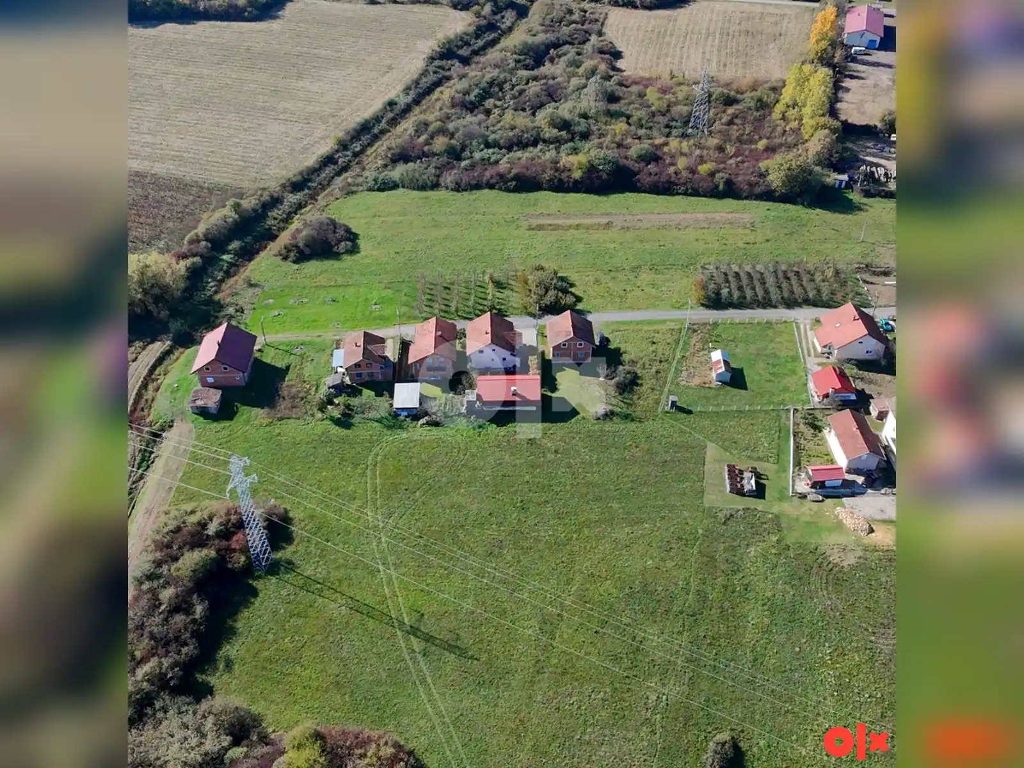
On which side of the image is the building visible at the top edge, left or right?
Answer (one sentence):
You can find the building visible at the top edge on the right side of the picture.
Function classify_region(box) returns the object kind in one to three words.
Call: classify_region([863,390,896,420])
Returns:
building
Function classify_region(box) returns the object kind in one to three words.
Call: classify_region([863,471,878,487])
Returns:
car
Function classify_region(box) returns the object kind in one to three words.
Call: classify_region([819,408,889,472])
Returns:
house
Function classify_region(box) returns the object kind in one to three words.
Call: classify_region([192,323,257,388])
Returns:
house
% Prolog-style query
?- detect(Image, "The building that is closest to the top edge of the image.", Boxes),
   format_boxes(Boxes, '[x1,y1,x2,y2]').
[846,6,887,49]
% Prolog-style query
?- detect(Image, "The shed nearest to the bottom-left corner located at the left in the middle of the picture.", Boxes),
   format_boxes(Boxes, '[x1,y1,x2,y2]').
[189,393,225,415]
